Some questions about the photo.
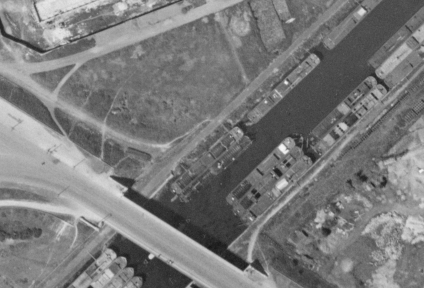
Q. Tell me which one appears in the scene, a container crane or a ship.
ship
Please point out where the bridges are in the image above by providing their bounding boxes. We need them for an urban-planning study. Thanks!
[95,186,250,288]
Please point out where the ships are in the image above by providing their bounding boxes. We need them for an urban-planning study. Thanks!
[241,154,314,225]
[106,266,138,288]
[308,74,378,140]
[243,53,320,124]
[85,255,130,288]
[320,0,379,50]
[224,135,297,205]
[124,274,146,288]
[367,5,424,67]
[64,246,119,288]
[374,24,424,78]
[231,144,305,217]
[315,82,390,154]
[169,127,243,195]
